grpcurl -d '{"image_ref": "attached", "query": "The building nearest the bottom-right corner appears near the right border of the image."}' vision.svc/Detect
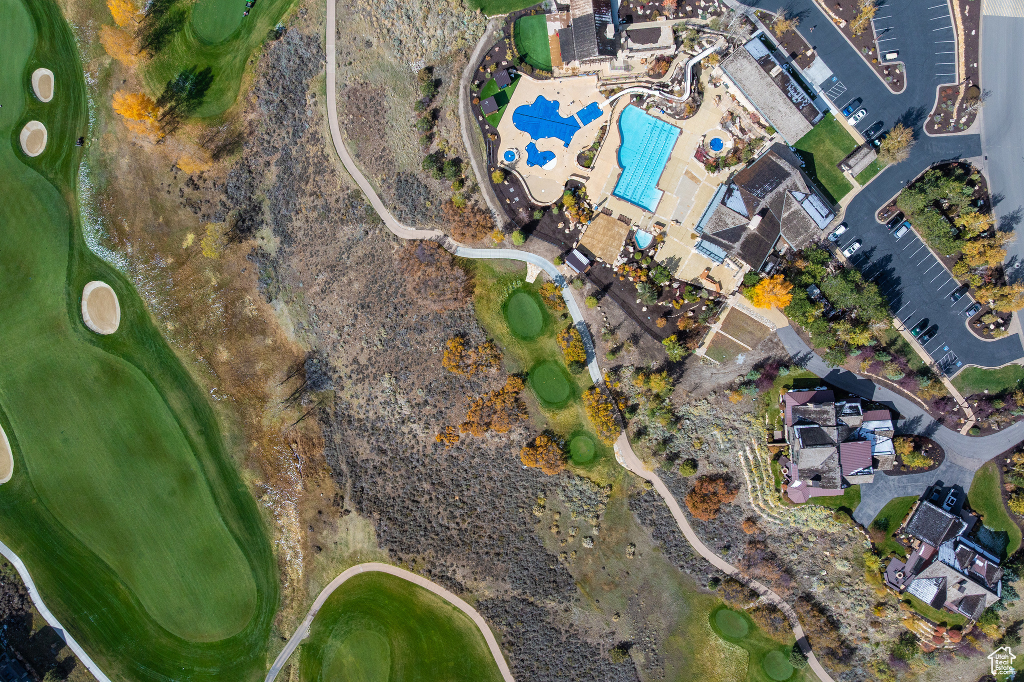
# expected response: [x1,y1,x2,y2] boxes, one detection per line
[899,500,1004,620]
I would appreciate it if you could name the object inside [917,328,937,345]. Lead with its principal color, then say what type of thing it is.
black car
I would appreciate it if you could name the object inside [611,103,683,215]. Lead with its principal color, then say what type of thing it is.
blue swimming pool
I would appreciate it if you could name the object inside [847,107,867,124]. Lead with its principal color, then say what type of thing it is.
white car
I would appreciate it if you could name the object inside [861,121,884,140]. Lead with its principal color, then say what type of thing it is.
black vehicle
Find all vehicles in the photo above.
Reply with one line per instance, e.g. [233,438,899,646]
[841,96,864,116]
[893,221,911,239]
[944,490,959,510]
[861,121,884,140]
[827,224,847,242]
[842,241,861,258]
[881,51,899,61]
[927,482,945,504]
[909,321,928,337]
[869,132,884,149]
[885,215,903,230]
[948,286,968,303]
[917,328,937,345]
[847,107,867,124]
[965,302,981,317]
